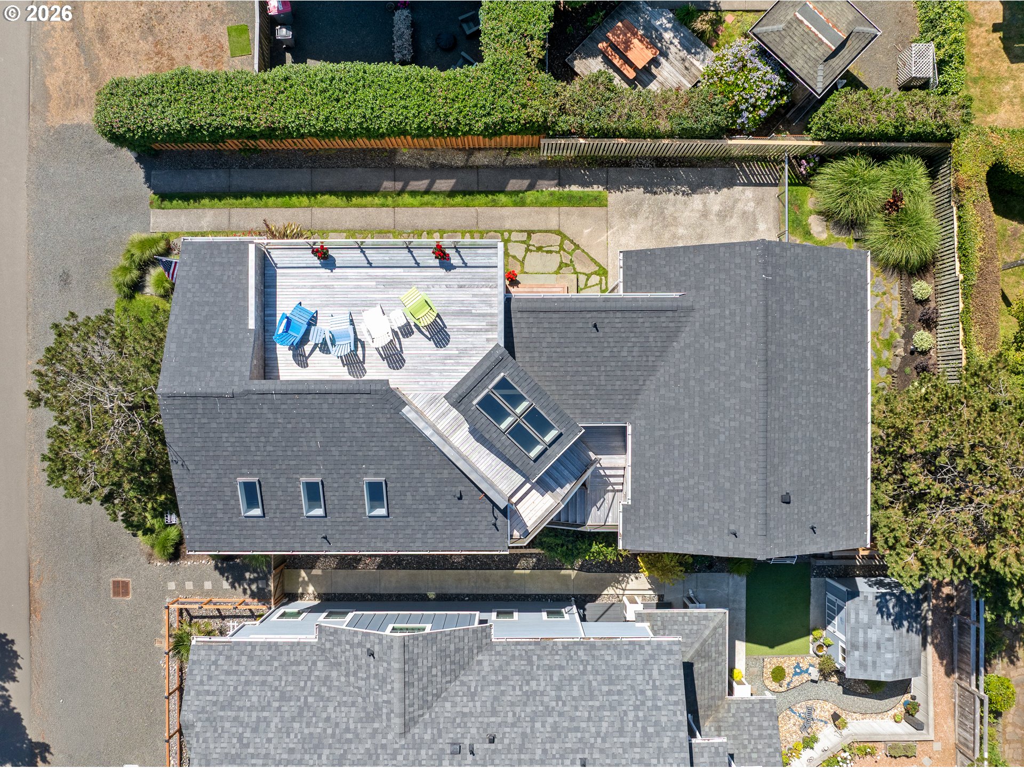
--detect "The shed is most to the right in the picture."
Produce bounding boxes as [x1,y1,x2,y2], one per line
[824,578,922,688]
